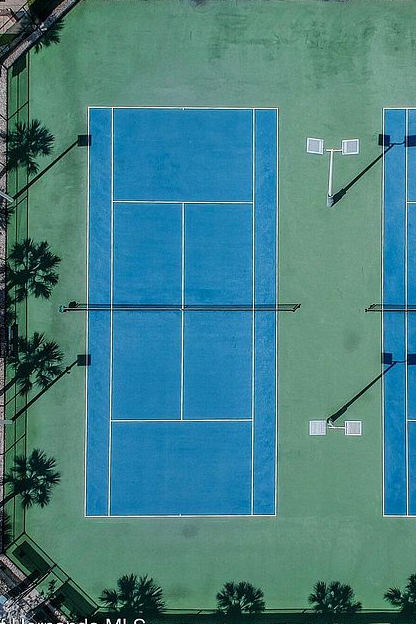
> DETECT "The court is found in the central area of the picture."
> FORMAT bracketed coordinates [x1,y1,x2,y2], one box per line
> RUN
[85,107,276,516]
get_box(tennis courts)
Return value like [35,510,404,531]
[85,107,276,516]
[384,108,416,515]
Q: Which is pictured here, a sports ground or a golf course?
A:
sports ground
